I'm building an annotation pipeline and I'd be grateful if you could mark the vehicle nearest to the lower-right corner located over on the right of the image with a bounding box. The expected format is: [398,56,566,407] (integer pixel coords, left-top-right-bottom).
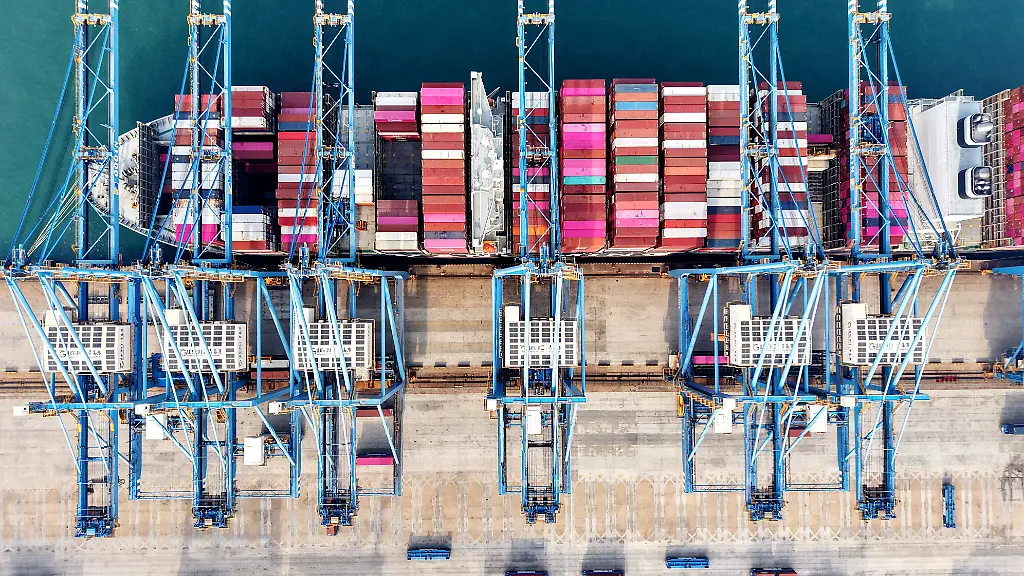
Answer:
[942,482,955,527]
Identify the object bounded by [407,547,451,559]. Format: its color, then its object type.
blue vehicle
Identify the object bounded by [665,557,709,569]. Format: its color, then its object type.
blue vehicle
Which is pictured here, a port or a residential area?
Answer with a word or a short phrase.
port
